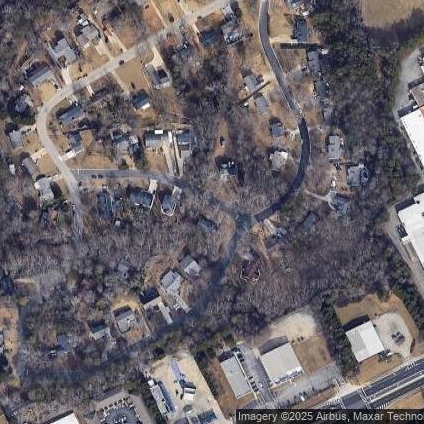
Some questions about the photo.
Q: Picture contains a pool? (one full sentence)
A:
No, I can't see a single pool in this photo.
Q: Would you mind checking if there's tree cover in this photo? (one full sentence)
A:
Yes, there is tree cover in the image.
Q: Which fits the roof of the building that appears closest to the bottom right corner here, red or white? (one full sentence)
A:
From above, the roof of the building that appears closest to the bottom right corner appears white.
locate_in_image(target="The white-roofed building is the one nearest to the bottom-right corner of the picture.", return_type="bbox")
[346,321,385,362]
